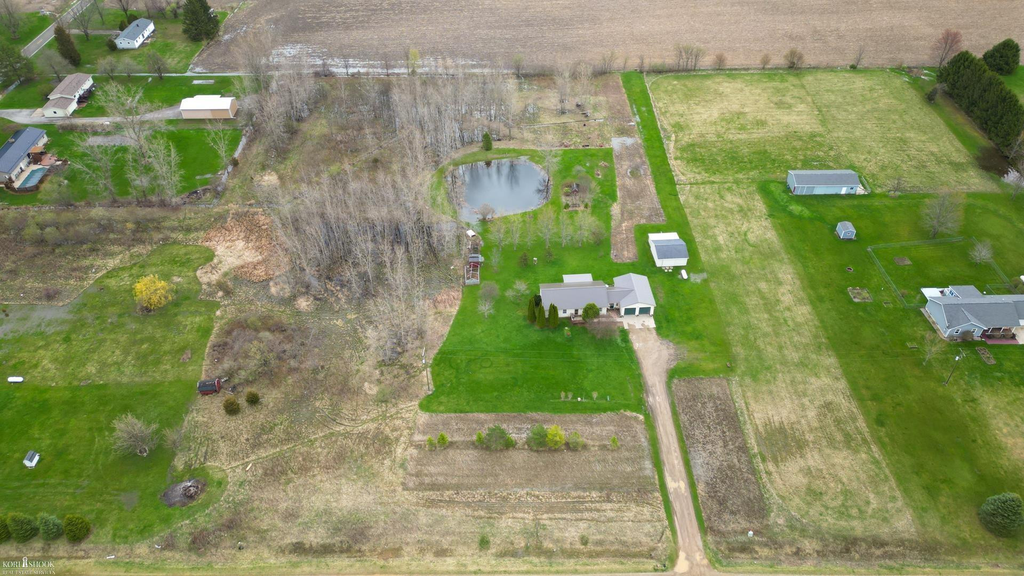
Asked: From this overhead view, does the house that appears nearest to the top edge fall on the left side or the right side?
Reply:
left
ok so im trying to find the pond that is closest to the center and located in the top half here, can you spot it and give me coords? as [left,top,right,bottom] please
[450,157,549,222]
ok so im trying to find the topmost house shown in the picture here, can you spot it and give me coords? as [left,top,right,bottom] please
[116,17,156,49]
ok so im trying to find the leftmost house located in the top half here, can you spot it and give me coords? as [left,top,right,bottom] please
[0,126,51,182]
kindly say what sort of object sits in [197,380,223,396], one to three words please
shed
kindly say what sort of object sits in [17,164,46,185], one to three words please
swimming pool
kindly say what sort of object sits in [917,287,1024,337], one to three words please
house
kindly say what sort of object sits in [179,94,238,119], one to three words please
barn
